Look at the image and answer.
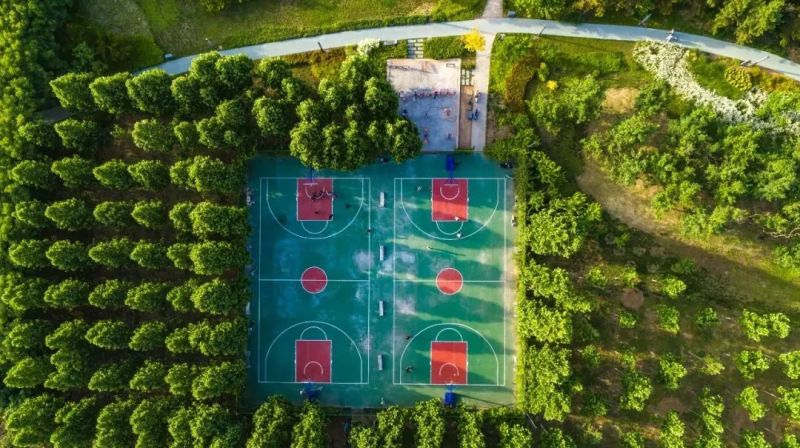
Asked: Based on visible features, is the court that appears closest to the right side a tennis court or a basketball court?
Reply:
basketball court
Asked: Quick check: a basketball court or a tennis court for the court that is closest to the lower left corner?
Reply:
basketball court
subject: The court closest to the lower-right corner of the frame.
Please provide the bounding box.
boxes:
[393,177,505,385]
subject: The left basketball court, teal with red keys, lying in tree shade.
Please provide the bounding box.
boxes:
[257,177,370,385]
